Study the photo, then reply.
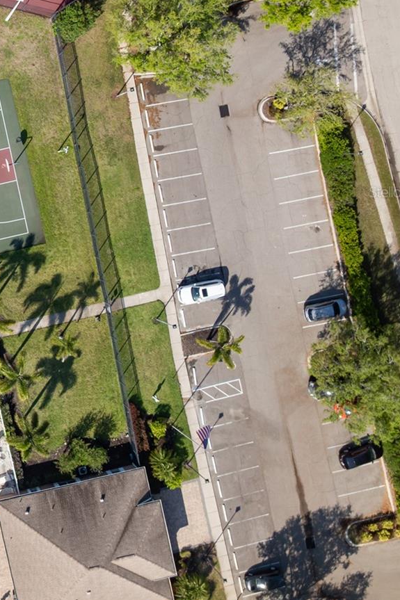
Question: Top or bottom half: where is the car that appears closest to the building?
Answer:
bottom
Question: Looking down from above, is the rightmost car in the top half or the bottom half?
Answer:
bottom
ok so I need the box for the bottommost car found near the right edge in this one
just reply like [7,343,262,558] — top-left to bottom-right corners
[335,438,383,464]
